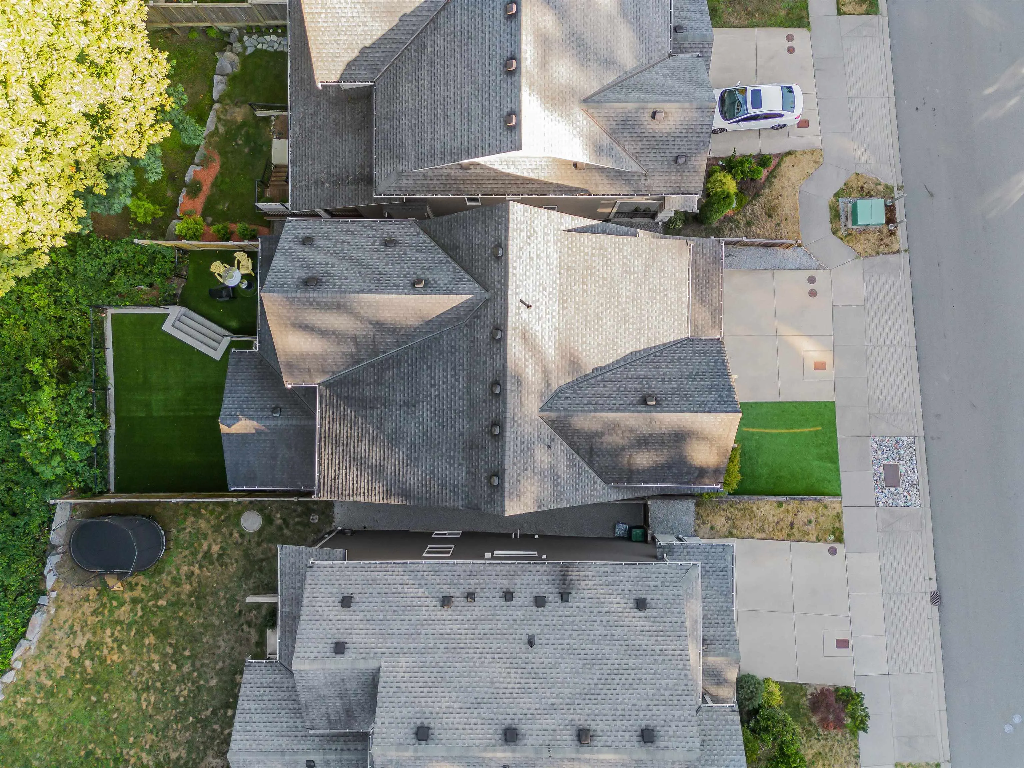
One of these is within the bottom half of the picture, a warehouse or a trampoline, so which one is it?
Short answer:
trampoline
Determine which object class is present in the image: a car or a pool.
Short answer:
car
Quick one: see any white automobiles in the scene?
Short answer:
Yes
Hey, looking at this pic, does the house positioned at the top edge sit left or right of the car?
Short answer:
to the left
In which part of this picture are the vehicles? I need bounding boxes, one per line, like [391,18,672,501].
[711,81,804,135]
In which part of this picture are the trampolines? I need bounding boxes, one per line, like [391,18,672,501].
[46,513,173,588]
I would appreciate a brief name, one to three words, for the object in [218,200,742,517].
house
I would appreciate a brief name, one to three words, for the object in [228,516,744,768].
house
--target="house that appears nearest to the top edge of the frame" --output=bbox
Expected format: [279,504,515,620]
[247,0,716,227]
